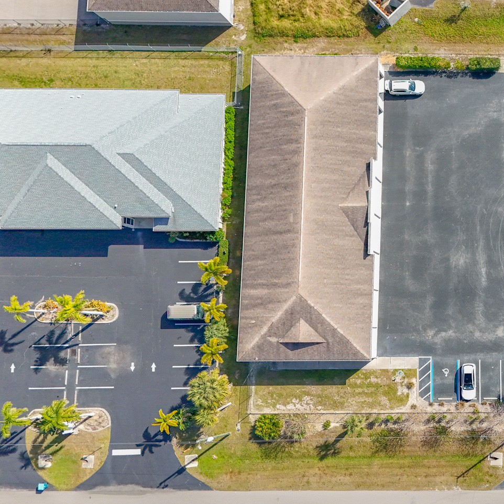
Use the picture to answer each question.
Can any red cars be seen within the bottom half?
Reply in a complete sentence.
No, no red car is visible within the bottom half.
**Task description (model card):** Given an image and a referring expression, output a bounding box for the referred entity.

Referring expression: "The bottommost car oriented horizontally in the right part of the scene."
[388,80,423,96]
